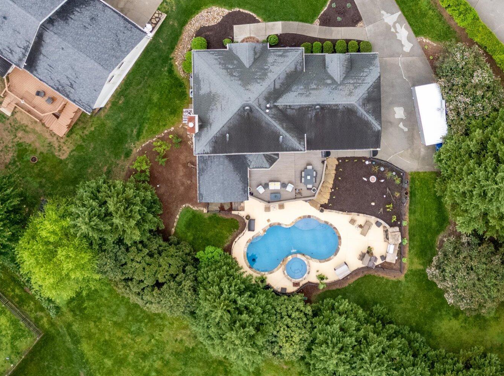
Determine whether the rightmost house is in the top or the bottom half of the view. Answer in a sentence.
Seen from above, the rightmost house lies in the top half of the view.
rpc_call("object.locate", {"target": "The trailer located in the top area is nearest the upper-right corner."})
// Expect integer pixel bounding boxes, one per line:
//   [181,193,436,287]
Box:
[412,72,447,145]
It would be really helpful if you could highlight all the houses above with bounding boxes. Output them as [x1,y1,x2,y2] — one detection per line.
[187,42,382,203]
[0,0,153,114]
